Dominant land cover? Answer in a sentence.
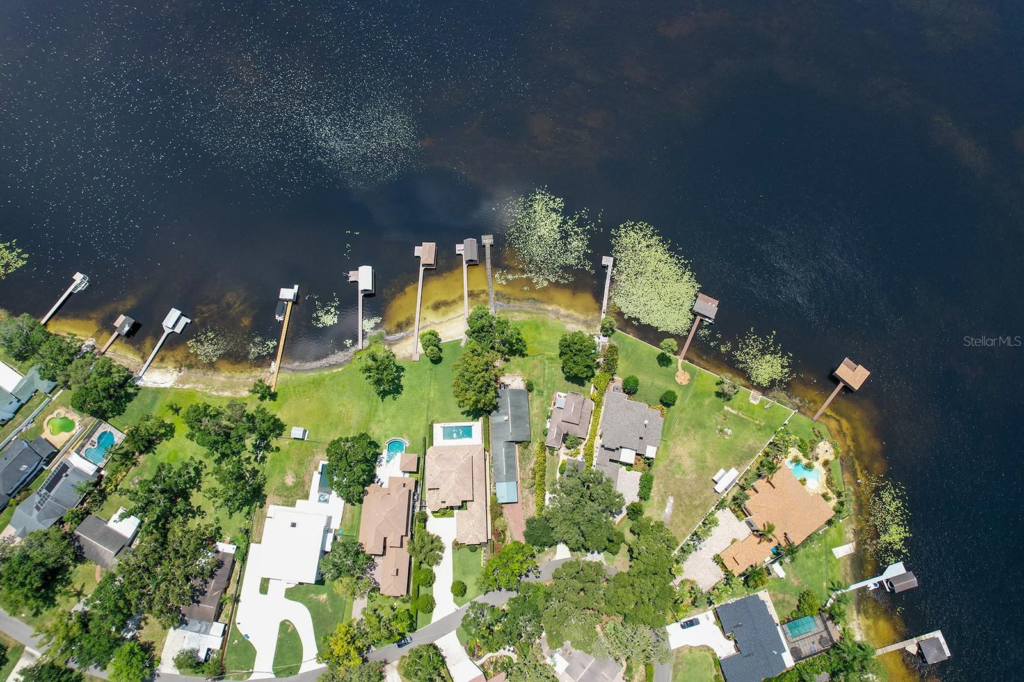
What you mostly see from above here is water.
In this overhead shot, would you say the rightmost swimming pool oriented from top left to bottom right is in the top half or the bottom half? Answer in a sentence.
It is in the bottom half that the rightmost swimming pool oriented from top left to bottom right appears.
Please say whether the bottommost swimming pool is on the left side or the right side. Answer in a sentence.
The bottommost swimming pool is on the right side of the image.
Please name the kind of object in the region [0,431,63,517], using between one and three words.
house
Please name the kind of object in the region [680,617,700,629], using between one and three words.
vehicle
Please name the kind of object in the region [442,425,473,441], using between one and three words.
swimming pool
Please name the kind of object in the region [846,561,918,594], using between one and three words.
pier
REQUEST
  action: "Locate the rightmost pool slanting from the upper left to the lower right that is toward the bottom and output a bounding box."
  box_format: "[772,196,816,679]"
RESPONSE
[786,459,821,490]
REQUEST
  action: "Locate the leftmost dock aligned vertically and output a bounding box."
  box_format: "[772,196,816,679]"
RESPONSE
[271,284,300,393]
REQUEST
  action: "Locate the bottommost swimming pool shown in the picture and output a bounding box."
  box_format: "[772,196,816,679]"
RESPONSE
[785,614,818,639]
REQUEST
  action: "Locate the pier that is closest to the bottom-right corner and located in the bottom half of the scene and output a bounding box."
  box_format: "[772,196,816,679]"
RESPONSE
[875,629,952,665]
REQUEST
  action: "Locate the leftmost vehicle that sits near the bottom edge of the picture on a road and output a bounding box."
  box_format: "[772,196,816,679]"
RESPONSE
[394,635,413,649]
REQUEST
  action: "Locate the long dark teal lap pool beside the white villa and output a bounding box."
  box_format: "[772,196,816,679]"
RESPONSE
[317,464,336,503]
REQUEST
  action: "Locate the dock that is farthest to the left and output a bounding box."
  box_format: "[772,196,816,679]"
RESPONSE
[43,271,90,320]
